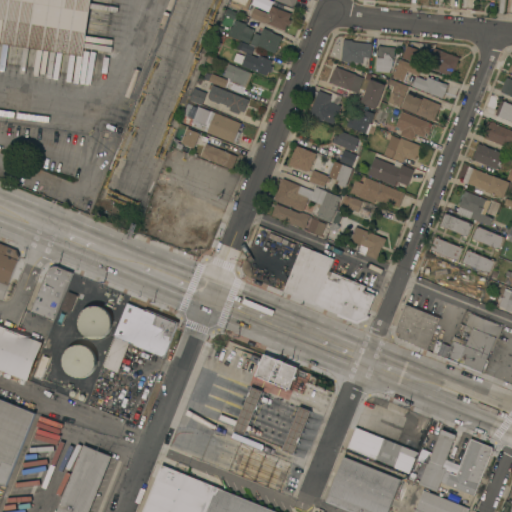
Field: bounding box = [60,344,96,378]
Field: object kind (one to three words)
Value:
storage tank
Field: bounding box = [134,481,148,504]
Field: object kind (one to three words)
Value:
vehicle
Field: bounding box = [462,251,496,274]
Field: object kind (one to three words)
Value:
building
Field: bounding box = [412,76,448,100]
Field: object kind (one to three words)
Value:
house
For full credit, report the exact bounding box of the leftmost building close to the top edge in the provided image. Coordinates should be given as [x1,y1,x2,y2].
[0,0,92,58]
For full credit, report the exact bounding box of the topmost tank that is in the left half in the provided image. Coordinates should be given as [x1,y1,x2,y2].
[76,305,112,339]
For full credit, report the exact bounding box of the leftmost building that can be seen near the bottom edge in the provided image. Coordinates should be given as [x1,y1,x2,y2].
[0,398,37,487]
